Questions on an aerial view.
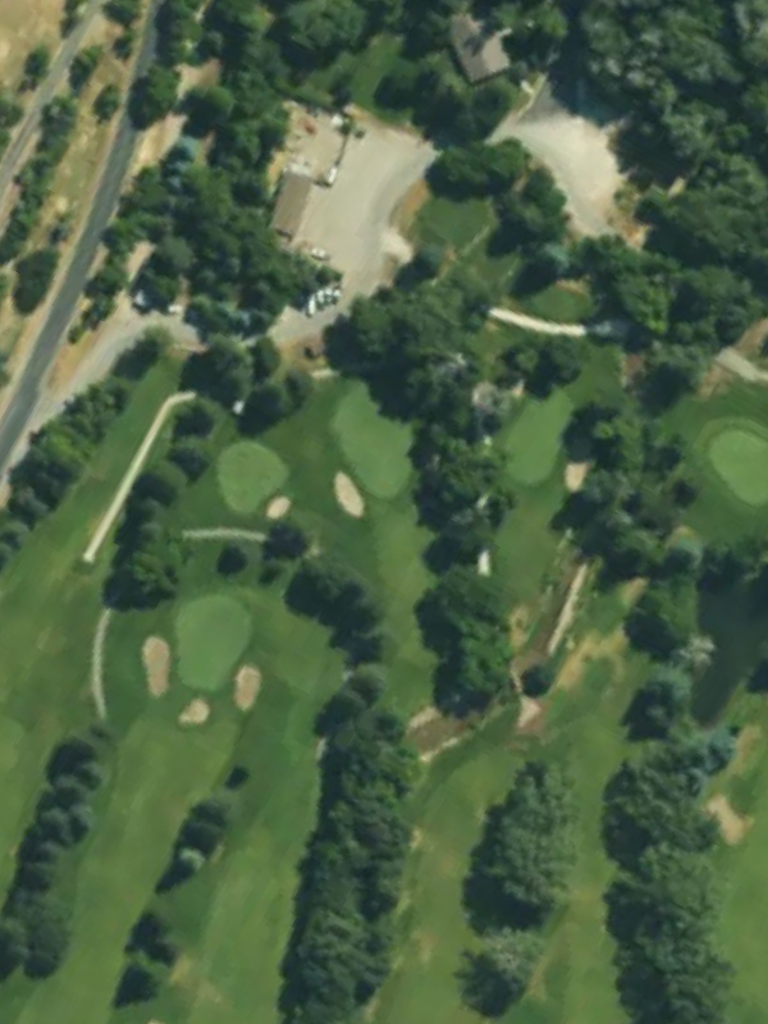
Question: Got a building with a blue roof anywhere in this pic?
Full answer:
No, the picture doesn't show any building with a blue roof.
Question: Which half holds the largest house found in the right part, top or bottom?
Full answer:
The largest house found in the right part sits in the top half of the picture.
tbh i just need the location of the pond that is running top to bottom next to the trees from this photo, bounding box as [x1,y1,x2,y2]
[691,561,768,727]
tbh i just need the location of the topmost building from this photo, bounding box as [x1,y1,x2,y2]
[449,8,507,82]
